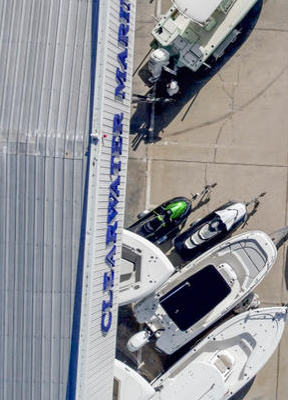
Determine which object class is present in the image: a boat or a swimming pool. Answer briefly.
boat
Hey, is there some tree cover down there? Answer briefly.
No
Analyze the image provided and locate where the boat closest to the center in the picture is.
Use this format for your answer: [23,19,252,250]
[130,197,195,242]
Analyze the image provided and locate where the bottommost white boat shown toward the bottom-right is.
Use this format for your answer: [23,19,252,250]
[155,304,288,400]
